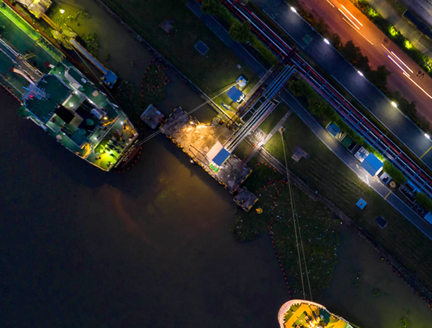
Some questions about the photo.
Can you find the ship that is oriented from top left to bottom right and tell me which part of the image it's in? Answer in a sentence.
The ship that is oriented from top left to bottom right is in the top left part of the image.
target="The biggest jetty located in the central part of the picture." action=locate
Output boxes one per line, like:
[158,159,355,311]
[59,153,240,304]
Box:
[162,105,254,194]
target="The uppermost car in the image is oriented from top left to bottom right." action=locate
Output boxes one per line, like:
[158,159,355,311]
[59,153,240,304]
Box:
[343,8,359,24]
